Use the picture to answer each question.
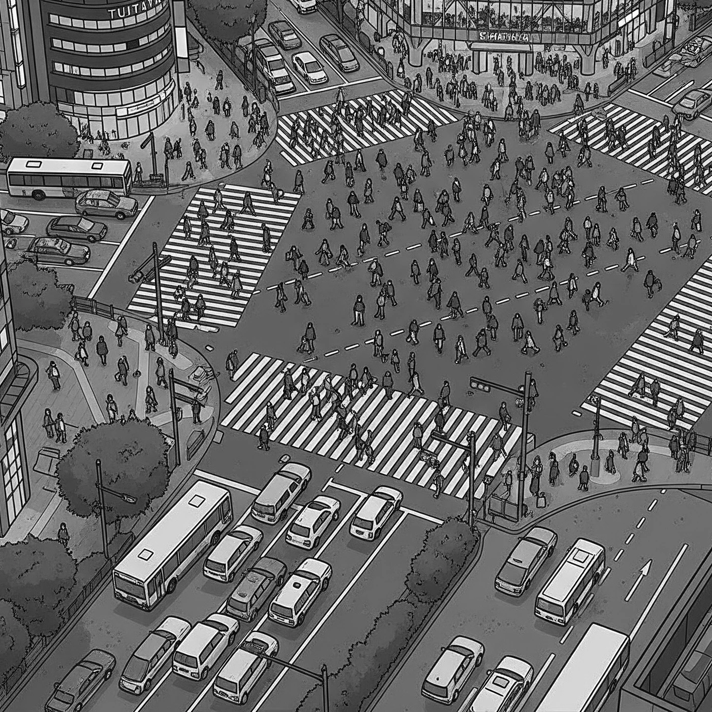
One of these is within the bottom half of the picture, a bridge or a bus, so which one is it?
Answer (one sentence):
The feature located within the bottom half of the picture is a bus.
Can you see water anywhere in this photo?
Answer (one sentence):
No, there is no water in the image.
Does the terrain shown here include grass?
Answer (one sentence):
No, there's no grass in this view.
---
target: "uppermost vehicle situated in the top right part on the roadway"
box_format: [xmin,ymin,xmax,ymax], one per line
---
[677,38,712,69]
